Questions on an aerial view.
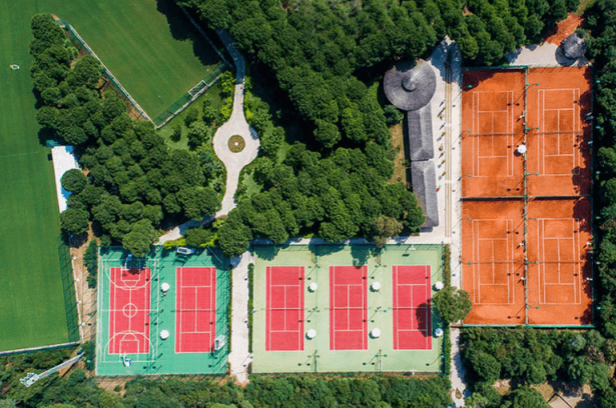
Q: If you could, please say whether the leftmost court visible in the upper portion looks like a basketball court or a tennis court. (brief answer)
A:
tennis court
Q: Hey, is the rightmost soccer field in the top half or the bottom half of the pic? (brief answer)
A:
top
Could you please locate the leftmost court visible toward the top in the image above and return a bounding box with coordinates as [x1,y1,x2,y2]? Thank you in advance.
[461,67,525,197]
